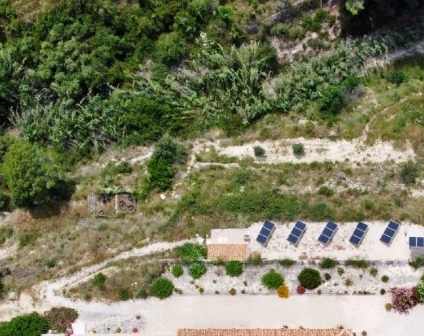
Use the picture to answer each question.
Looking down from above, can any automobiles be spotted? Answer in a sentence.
No, no automobile is visible in the view.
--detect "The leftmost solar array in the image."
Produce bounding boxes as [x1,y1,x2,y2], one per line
[256,222,276,246]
